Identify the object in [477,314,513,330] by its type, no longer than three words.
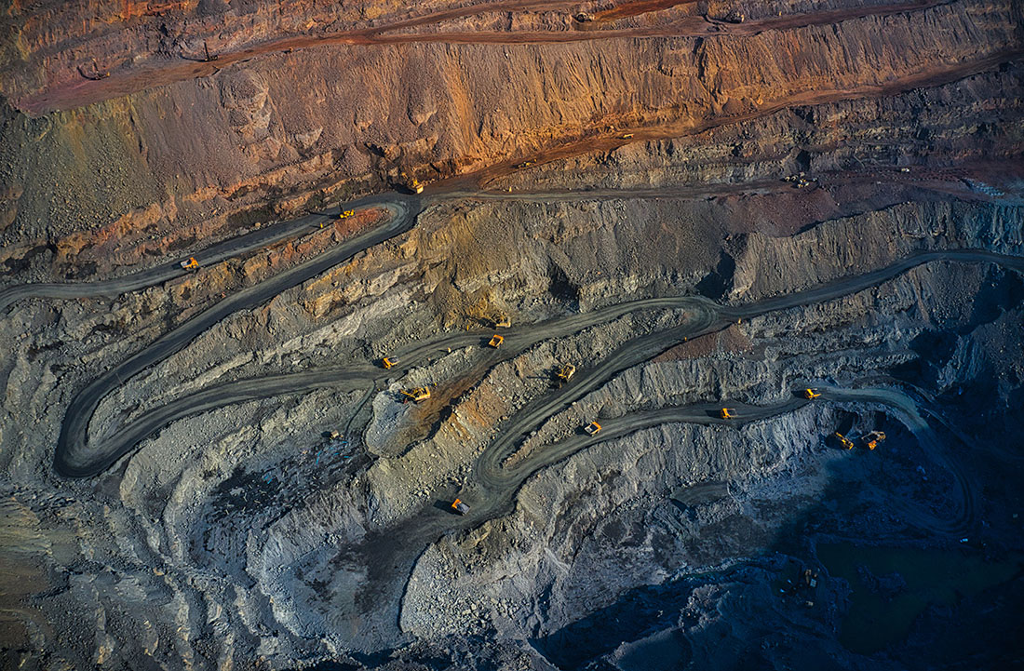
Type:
work vehicle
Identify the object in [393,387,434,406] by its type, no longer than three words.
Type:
work vehicle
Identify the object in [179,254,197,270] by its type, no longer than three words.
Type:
vehicle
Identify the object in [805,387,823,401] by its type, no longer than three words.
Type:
vehicle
